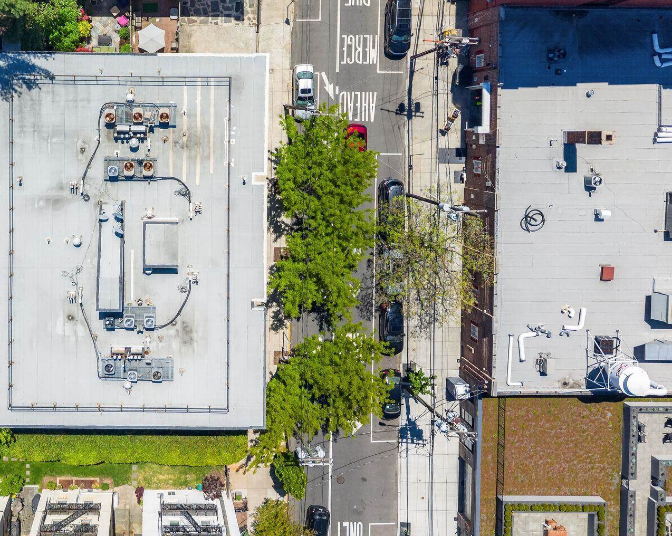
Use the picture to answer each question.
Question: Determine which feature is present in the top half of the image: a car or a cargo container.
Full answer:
Visible in the top half of the image is a car.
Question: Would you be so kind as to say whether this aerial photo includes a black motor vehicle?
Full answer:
Yes, the photo shows a black motor vehicle.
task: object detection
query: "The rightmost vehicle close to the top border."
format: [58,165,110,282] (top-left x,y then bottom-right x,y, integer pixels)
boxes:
[384,0,417,58]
